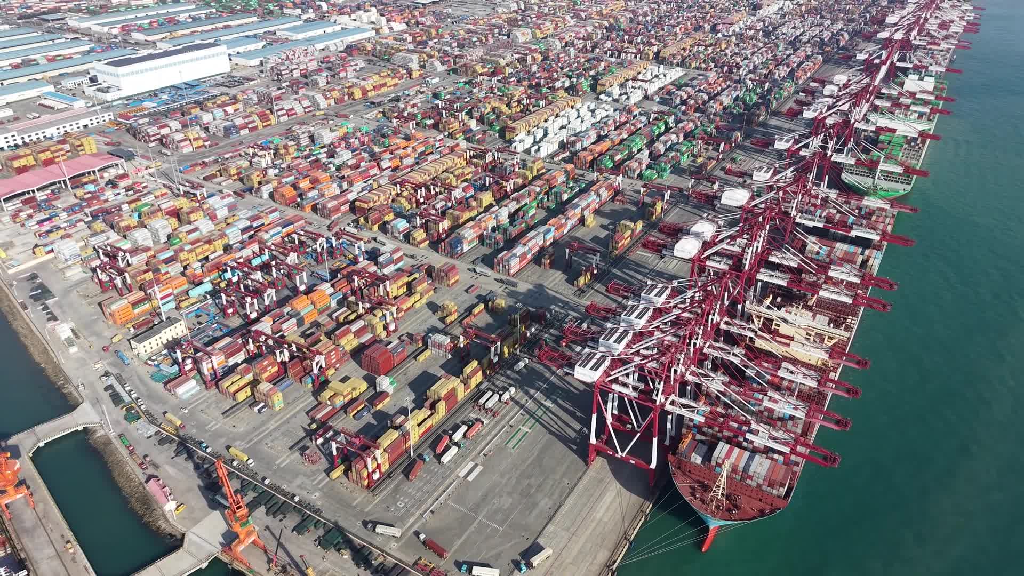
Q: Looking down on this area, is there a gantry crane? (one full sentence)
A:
Yes, you can see a gantry crane in this photo.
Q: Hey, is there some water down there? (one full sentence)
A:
Yes, there is water in the image.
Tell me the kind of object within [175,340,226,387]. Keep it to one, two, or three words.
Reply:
crane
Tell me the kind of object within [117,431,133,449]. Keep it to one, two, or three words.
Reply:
vehicle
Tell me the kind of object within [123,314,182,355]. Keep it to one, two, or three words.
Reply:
building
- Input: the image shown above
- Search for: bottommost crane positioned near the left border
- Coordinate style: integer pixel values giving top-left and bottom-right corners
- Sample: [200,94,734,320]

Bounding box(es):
[0,443,33,525]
